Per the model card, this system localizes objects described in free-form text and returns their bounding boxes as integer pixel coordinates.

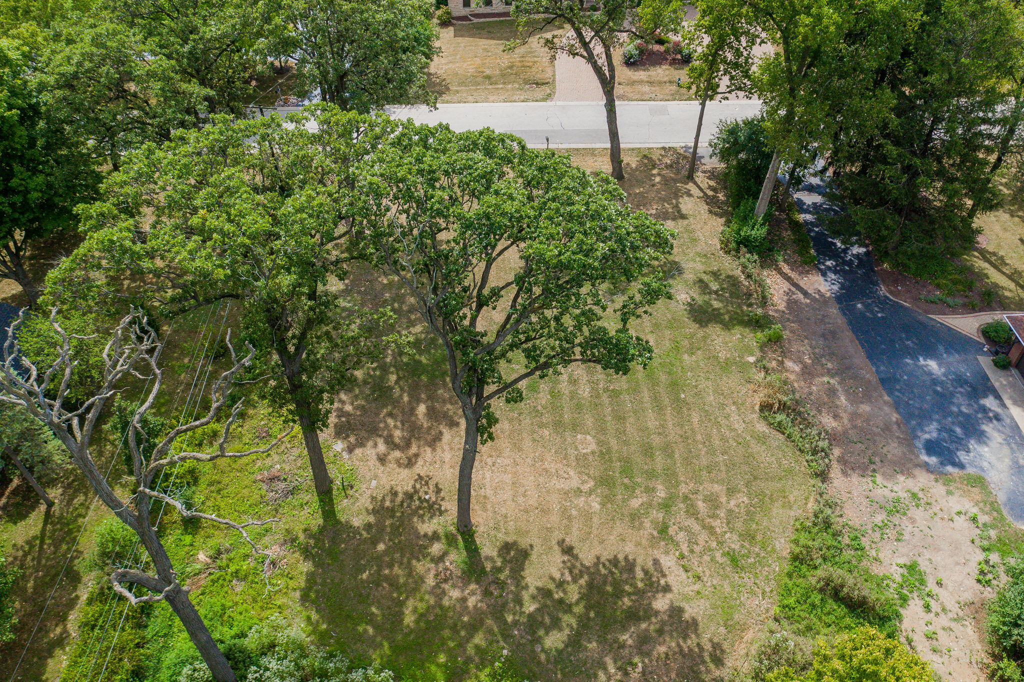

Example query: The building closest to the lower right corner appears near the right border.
[994,309,1024,379]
